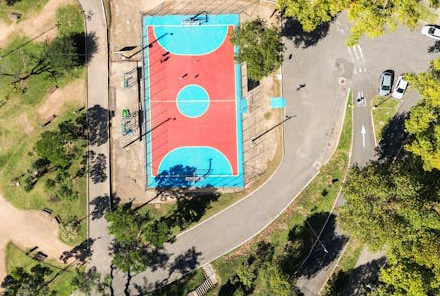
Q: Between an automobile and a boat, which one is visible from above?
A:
automobile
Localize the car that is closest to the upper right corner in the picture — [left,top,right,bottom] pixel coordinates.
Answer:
[420,24,440,40]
